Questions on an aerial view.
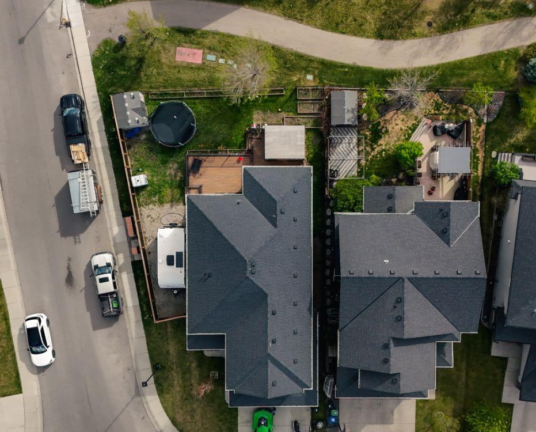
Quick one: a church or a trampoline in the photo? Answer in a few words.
trampoline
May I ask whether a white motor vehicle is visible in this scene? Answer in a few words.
Yes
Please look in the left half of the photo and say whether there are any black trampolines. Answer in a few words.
Yes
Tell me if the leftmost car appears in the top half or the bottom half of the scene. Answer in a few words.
bottom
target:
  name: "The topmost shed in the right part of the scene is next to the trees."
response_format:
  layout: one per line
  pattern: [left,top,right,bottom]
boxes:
[329,90,358,127]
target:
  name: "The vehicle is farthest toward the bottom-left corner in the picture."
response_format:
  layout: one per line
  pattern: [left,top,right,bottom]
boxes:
[25,311,57,369]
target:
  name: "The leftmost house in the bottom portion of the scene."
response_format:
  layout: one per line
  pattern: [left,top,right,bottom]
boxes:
[184,166,319,407]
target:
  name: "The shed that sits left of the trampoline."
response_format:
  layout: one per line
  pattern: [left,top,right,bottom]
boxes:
[111,91,149,131]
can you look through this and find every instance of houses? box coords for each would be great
[333,186,487,398]
[490,179,536,401]
[184,166,319,407]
